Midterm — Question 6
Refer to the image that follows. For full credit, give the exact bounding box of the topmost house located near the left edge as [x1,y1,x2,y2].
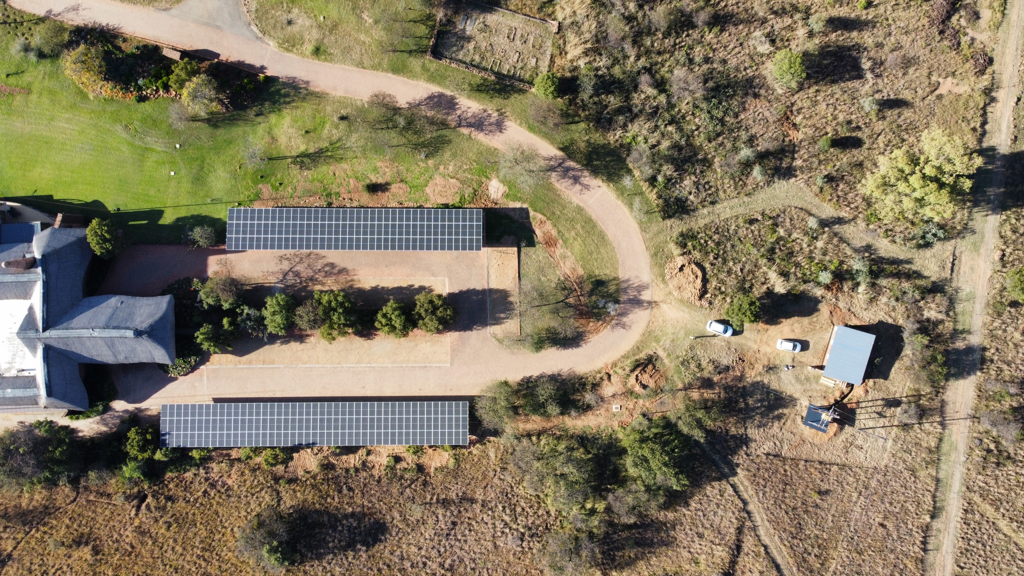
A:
[0,216,176,413]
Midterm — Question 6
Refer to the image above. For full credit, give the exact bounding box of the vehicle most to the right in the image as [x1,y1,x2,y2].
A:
[776,339,801,353]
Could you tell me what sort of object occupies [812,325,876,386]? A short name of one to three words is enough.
shed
